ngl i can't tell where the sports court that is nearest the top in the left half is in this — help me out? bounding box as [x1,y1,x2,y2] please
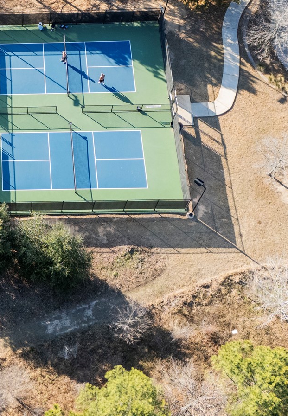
[0,41,136,94]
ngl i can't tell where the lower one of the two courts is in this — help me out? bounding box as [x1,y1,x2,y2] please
[1,131,148,191]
